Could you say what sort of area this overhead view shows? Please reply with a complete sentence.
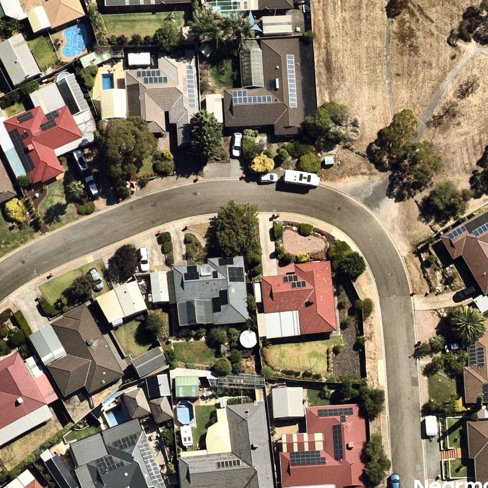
It's a residential area.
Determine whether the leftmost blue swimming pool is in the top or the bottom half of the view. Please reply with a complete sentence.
The leftmost blue swimming pool sits in the top half of the picture.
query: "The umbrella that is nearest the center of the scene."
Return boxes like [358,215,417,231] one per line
[240,330,256,347]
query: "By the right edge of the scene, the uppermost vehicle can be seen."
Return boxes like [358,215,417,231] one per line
[453,286,476,303]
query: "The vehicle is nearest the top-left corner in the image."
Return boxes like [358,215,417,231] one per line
[73,148,88,173]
